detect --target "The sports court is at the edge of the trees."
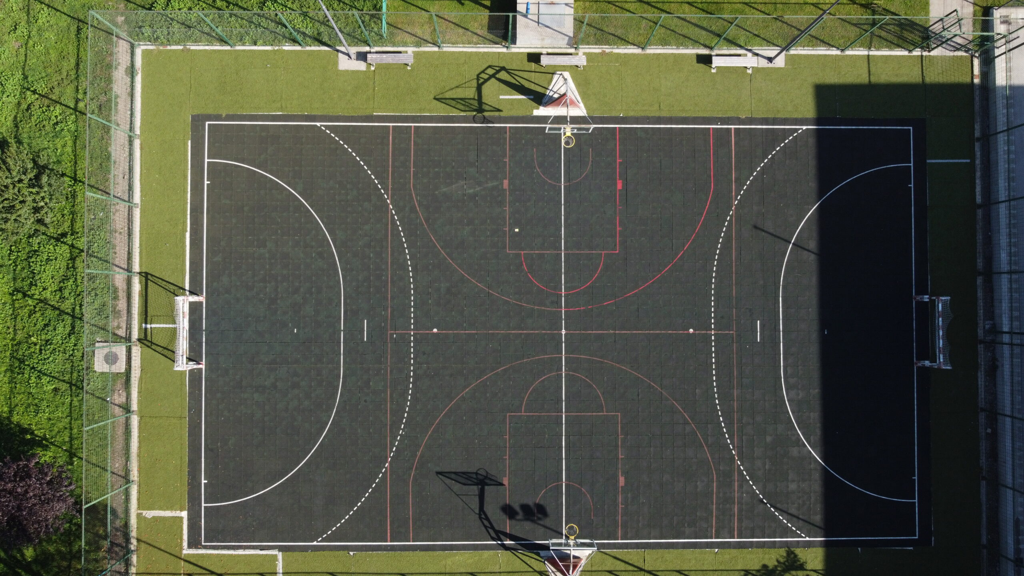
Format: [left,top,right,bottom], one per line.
[143,95,970,552]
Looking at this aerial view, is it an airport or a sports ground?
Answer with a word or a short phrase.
sports ground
